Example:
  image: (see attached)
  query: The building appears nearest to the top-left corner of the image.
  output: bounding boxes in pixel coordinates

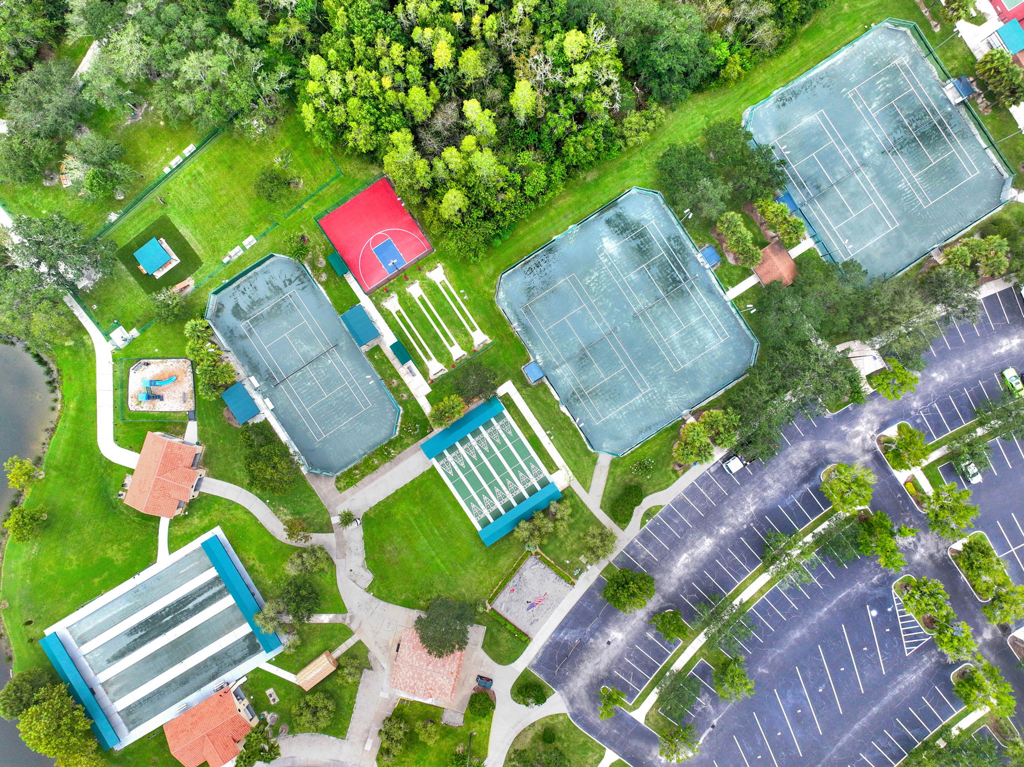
[134,237,177,276]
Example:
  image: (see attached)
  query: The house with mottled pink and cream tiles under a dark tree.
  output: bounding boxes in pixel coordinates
[389,626,468,704]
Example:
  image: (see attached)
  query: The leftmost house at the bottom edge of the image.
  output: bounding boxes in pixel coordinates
[164,671,263,767]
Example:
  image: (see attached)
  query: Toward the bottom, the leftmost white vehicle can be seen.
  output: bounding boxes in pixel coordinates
[722,452,754,475]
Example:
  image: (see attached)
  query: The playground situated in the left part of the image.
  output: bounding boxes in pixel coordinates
[127,358,194,411]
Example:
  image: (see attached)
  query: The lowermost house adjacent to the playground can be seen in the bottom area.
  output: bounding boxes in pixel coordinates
[124,430,209,520]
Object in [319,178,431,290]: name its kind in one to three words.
basketball court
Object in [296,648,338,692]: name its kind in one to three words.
shed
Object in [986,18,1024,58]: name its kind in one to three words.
building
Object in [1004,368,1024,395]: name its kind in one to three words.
car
